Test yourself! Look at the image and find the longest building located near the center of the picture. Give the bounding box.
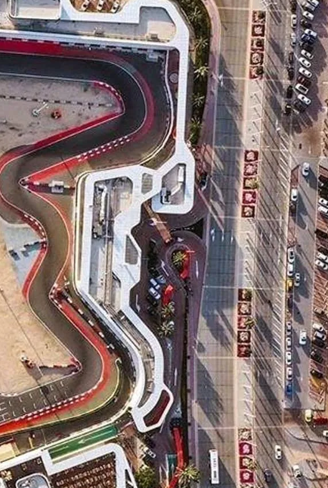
[74,145,194,432]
